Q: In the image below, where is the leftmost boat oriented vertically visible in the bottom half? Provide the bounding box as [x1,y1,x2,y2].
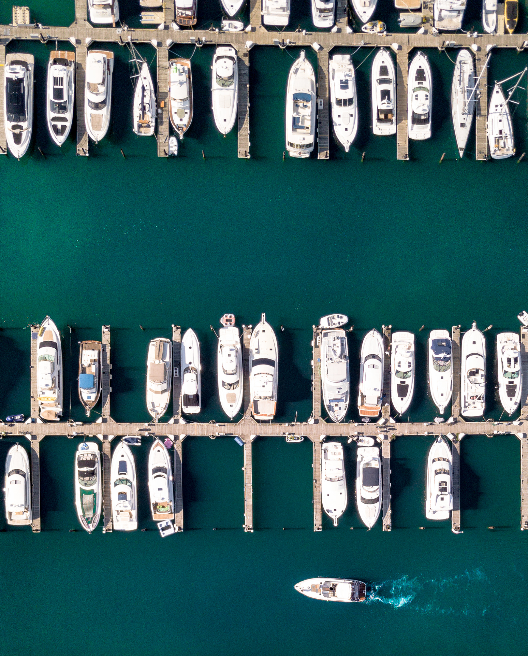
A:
[4,435,33,526]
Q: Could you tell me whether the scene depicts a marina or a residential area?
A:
marina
